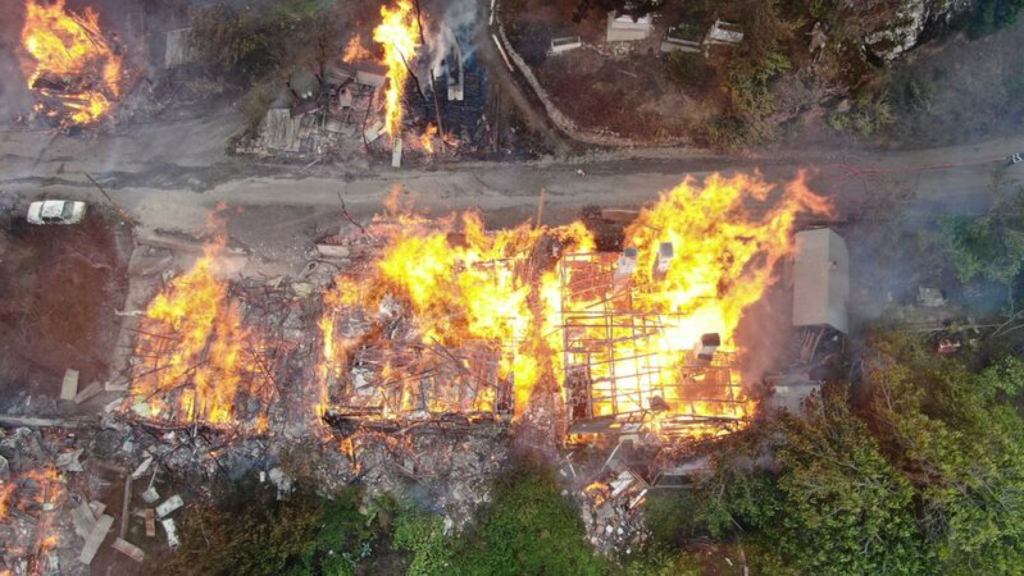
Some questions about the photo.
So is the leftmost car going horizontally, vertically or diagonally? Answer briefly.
horizontally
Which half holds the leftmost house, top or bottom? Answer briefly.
top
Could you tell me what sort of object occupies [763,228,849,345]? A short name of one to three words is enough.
shed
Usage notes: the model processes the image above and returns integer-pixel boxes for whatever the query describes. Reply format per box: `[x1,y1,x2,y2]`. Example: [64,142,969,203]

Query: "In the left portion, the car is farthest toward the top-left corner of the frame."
[21,198,88,227]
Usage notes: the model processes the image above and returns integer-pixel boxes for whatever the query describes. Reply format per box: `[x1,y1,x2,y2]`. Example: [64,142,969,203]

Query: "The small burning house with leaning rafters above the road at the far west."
[19,10,120,115]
